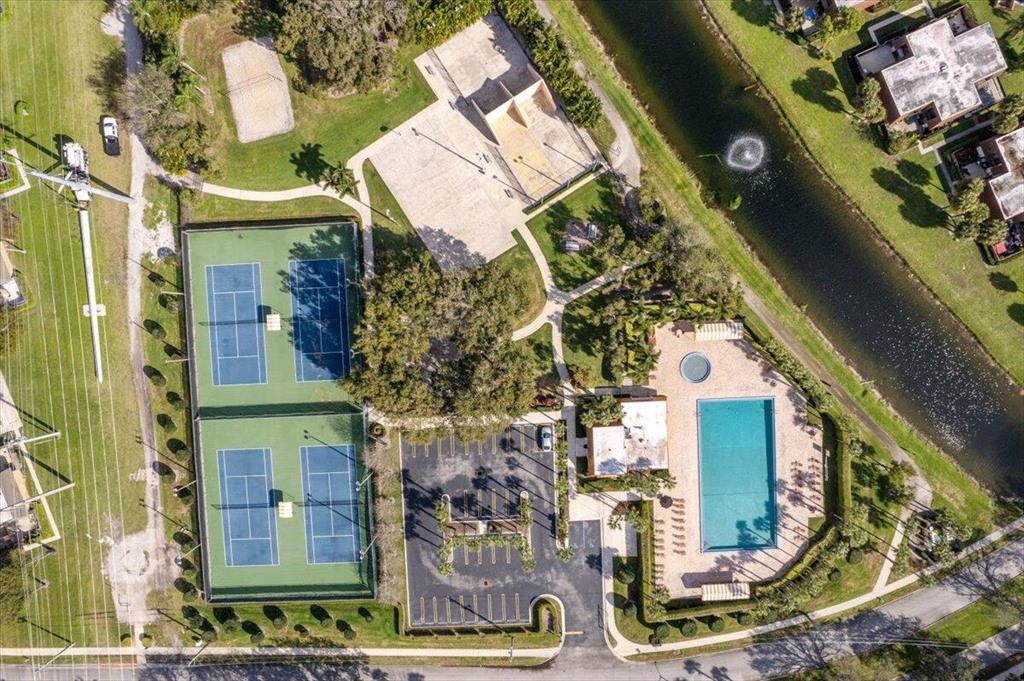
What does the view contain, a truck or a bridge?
truck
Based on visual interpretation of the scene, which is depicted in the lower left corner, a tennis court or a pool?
tennis court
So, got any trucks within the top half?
Yes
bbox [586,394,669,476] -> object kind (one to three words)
building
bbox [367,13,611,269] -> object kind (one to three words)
sports court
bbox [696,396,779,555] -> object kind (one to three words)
swimming pool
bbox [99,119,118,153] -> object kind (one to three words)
vehicle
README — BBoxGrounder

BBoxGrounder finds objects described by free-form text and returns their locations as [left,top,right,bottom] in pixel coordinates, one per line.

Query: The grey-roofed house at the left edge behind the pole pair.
[0,442,40,509]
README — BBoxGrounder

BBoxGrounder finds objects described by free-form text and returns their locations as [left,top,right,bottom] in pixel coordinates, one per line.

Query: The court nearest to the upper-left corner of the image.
[223,41,293,141]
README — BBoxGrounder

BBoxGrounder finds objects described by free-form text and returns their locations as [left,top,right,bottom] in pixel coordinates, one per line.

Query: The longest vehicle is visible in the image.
[55,141,89,204]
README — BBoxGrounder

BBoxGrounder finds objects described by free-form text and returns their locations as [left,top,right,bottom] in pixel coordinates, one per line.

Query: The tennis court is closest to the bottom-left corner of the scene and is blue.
[214,447,279,567]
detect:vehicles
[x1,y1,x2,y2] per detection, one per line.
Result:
[541,427,551,450]
[55,141,89,204]
[99,119,118,153]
